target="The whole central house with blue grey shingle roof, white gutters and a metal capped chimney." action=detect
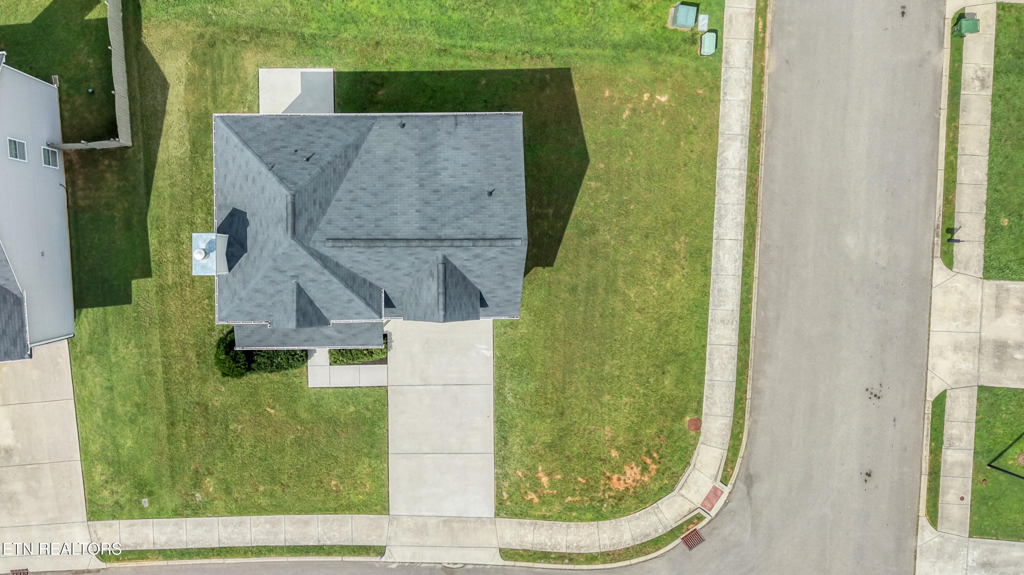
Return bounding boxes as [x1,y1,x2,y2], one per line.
[193,110,529,352]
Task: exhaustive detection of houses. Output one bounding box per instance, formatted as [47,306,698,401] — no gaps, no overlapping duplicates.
[193,110,529,352]
[0,52,74,363]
